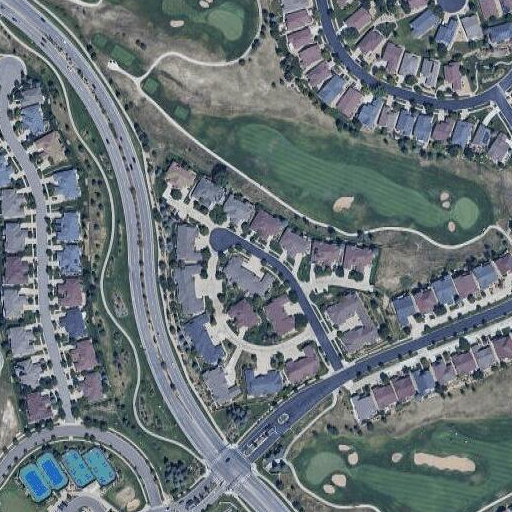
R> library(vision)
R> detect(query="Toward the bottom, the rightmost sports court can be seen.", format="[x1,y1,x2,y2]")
[82,447,116,485]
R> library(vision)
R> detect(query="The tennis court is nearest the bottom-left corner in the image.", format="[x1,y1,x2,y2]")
[19,464,51,502]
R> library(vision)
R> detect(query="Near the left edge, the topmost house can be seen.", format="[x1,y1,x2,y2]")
[21,86,42,105]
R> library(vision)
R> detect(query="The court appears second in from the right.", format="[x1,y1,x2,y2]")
[60,448,95,487]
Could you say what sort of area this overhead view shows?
residential area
